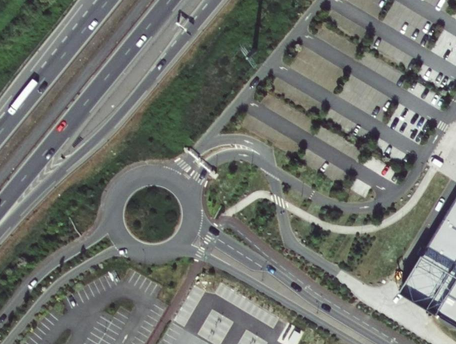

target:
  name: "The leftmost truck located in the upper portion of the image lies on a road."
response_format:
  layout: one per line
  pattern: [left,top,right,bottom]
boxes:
[10,78,40,114]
